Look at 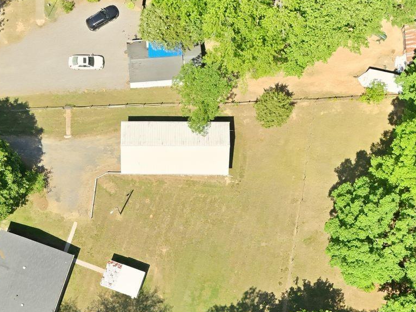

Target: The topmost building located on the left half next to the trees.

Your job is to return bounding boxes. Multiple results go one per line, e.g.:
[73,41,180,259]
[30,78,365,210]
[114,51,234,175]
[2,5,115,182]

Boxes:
[128,41,200,87]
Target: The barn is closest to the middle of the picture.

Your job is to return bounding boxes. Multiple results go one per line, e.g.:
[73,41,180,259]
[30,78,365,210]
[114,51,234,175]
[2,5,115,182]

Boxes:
[120,121,233,179]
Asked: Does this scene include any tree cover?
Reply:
Yes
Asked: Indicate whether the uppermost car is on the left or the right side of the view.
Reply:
left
